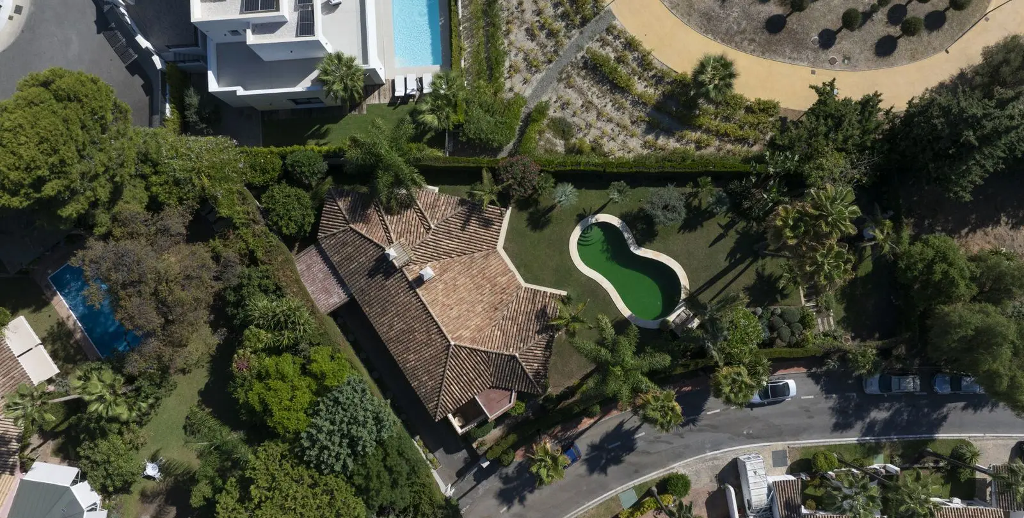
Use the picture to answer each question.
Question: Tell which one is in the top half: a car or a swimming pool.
swimming pool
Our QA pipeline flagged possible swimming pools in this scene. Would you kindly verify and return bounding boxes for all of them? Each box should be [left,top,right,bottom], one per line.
[390,0,446,70]
[46,249,140,361]
[568,212,692,329]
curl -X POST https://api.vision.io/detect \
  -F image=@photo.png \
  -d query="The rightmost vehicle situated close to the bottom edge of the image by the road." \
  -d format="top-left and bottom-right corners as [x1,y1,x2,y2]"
[738,449,773,518]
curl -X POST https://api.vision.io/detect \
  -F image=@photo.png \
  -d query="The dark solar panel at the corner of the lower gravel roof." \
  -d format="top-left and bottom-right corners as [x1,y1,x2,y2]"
[298,8,316,37]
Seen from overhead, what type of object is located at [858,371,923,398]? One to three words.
car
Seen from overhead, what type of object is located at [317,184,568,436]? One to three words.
house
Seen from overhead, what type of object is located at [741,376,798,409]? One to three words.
car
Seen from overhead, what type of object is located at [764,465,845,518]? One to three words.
house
